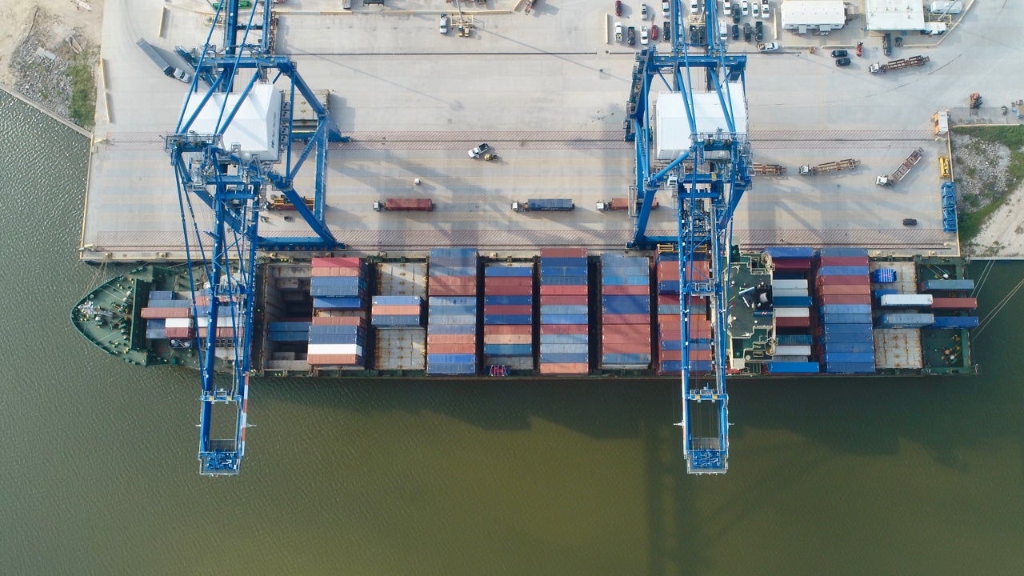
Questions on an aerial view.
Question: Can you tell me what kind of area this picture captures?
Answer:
port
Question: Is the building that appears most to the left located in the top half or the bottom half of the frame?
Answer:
top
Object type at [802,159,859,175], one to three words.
vehicle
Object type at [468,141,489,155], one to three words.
vehicle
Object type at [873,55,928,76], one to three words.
truck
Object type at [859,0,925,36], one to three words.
shed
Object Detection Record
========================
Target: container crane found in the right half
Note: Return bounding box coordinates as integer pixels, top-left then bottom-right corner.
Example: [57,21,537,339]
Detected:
[614,0,755,476]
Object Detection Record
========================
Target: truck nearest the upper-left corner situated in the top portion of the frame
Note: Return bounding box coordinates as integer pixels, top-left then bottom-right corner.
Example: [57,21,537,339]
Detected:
[132,35,180,82]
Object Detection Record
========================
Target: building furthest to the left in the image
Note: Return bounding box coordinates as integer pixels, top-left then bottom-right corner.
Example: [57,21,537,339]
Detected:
[782,1,845,38]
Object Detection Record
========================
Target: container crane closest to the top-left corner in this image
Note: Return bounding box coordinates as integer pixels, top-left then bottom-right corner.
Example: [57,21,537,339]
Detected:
[169,0,349,475]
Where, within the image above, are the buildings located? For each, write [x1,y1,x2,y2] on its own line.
[859,0,925,36]
[782,1,845,38]
[929,108,951,134]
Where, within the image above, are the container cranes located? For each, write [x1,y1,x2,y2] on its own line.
[614,0,755,476]
[169,0,349,475]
